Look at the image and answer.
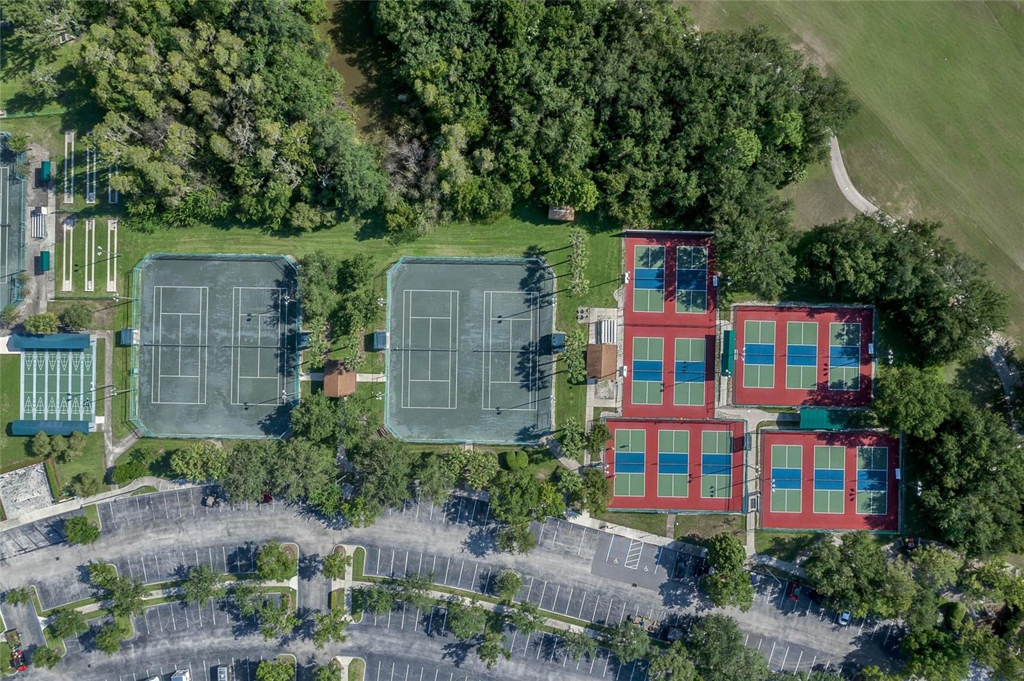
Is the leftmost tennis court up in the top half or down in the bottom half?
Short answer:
top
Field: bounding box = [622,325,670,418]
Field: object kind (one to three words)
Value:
sports court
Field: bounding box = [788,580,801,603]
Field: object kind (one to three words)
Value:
vehicle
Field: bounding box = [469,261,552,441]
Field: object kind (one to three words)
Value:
tennis court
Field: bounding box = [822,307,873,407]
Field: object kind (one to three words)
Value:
sports court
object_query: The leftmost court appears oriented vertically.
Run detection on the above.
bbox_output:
[0,135,24,306]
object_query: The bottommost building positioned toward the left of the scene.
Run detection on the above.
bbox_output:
[323,361,358,397]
